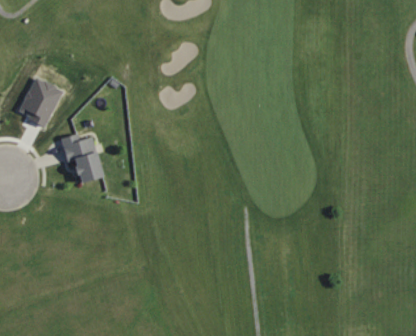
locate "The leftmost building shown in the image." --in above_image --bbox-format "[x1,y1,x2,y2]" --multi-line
[21,79,64,132]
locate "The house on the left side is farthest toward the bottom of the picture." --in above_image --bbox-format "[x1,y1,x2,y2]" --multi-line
[62,135,101,182]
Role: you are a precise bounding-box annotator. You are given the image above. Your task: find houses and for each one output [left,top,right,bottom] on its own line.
[62,135,101,182]
[21,79,64,132]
